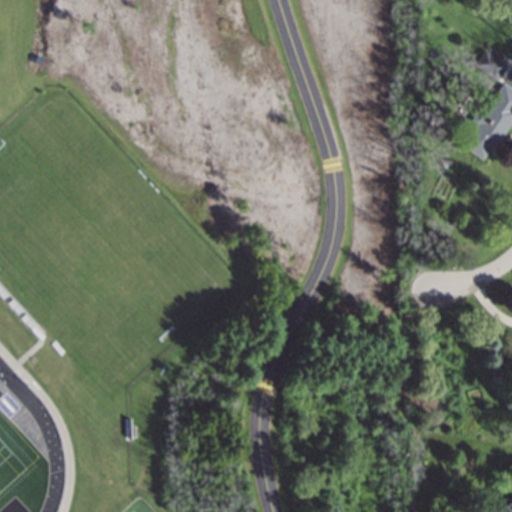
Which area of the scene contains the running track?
bottom left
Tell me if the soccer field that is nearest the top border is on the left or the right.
left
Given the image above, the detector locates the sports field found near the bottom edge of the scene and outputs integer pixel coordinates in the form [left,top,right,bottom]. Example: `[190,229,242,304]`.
[0,416,50,512]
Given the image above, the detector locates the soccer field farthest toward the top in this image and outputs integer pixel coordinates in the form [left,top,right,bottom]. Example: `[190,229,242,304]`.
[0,92,251,404]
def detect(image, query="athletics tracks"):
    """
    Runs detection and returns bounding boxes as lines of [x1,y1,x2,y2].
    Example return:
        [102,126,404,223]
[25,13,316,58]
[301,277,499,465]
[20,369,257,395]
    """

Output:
[0,344,73,512]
